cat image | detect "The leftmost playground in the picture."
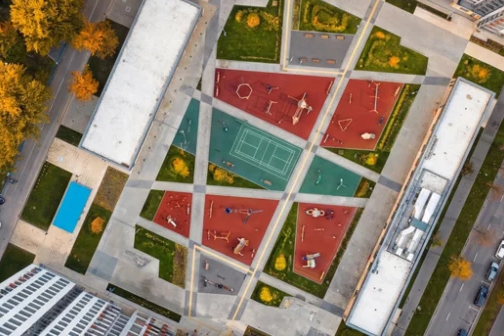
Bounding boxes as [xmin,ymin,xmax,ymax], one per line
[153,191,192,238]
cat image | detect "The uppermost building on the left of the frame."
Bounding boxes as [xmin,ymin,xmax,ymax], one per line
[78,0,201,170]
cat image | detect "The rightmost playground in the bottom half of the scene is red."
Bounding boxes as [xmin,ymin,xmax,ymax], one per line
[293,203,356,284]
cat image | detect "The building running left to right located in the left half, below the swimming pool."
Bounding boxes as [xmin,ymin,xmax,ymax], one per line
[0,263,180,336]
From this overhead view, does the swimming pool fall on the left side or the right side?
left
